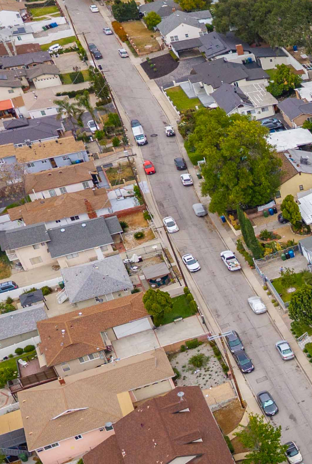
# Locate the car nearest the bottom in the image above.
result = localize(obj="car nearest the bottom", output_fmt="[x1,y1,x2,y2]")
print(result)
[282,441,305,464]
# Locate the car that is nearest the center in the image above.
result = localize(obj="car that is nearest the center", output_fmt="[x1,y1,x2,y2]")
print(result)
[164,218,179,233]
